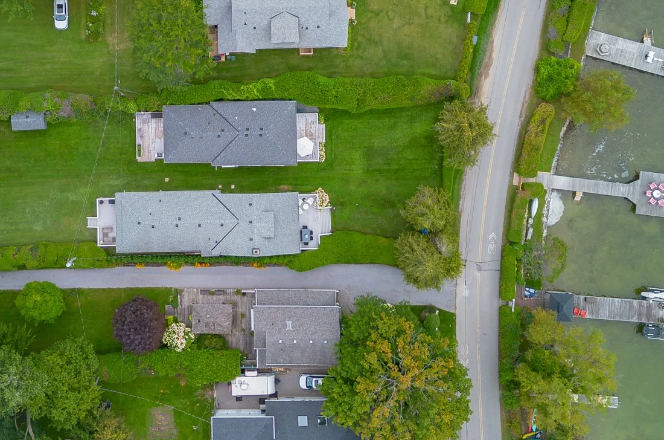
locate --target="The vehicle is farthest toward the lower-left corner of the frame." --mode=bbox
[231,374,281,400]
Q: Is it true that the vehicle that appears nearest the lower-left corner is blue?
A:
No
